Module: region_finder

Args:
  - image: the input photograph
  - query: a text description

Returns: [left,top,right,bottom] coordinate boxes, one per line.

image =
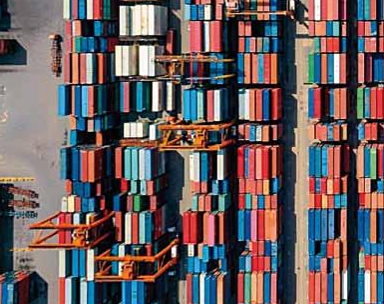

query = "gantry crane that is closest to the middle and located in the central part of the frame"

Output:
[157,114,238,152]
